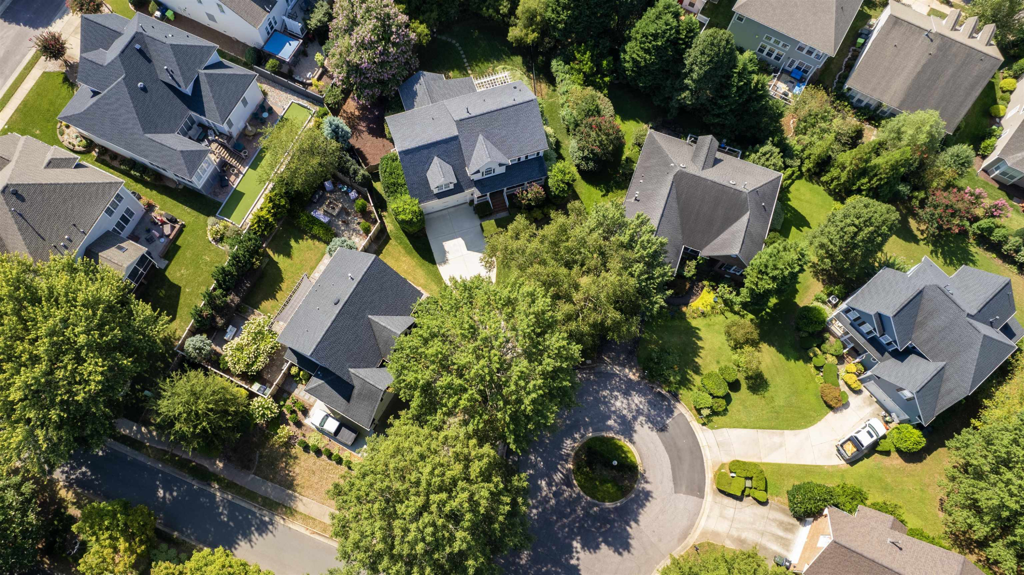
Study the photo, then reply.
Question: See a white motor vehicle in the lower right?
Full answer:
Yes, the scene does show a white motor vehicle in the lower right.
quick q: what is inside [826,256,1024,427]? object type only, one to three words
house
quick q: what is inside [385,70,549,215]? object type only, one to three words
house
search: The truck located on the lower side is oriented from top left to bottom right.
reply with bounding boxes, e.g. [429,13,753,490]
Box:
[310,409,359,447]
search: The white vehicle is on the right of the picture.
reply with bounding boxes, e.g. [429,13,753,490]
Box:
[838,418,886,459]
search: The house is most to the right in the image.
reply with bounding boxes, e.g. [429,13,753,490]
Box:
[985,105,1024,192]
